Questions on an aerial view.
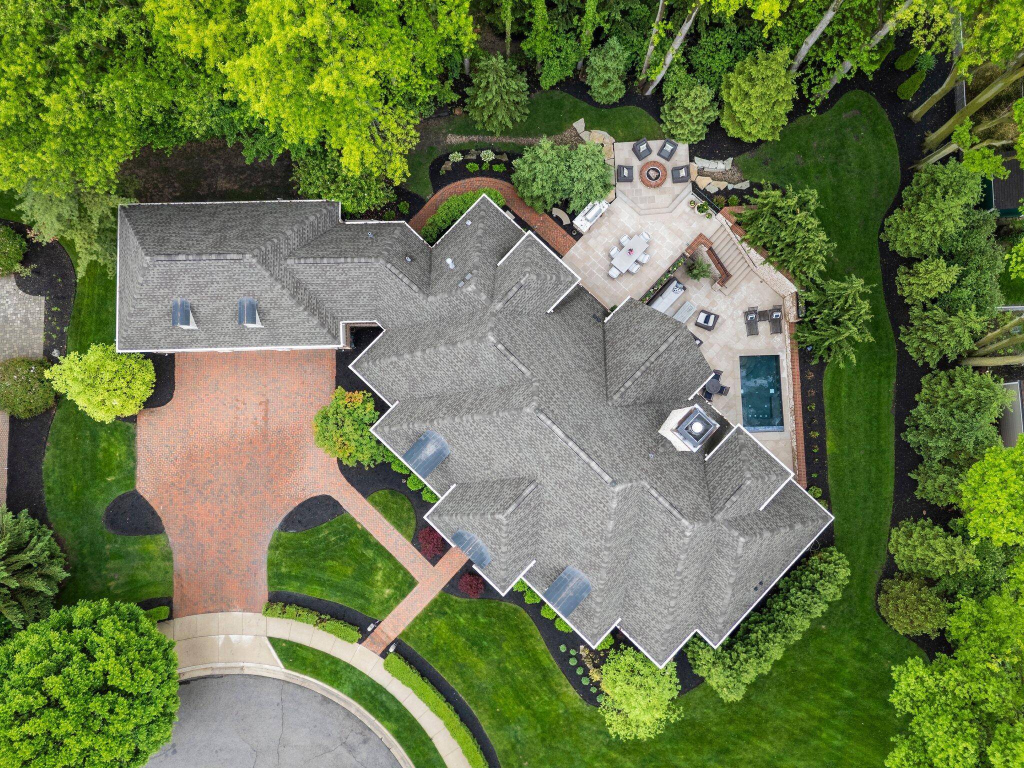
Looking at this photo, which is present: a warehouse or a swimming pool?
swimming pool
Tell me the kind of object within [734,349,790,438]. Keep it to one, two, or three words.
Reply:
swimming pool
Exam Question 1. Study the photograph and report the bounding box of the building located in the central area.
[115,192,837,672]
